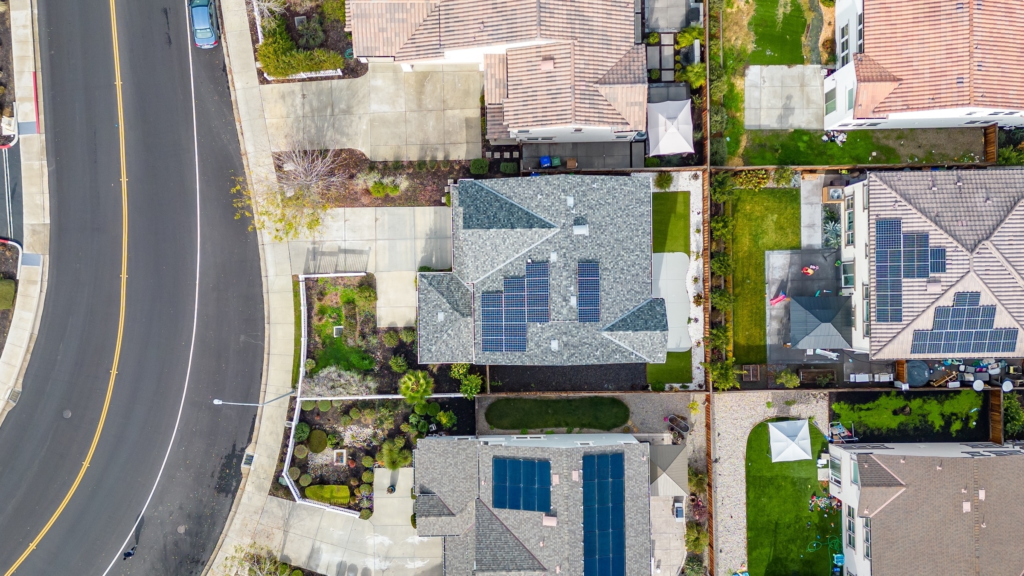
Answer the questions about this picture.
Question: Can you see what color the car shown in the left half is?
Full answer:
From above, the car shown in the left half appears blue.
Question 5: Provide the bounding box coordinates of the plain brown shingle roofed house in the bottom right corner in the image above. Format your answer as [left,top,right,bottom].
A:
[829,443,1024,576]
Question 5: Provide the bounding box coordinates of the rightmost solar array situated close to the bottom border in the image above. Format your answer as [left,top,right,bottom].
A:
[582,452,623,576]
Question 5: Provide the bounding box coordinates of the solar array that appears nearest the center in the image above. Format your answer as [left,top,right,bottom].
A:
[481,264,550,352]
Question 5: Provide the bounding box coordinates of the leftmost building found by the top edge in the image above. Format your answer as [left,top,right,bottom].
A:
[343,0,649,145]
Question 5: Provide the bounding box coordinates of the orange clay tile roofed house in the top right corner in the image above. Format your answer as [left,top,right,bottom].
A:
[824,0,1024,131]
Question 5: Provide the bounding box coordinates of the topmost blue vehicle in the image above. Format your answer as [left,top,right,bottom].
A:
[188,0,221,50]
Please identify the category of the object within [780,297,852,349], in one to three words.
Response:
gazebo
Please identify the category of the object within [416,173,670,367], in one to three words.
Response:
house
